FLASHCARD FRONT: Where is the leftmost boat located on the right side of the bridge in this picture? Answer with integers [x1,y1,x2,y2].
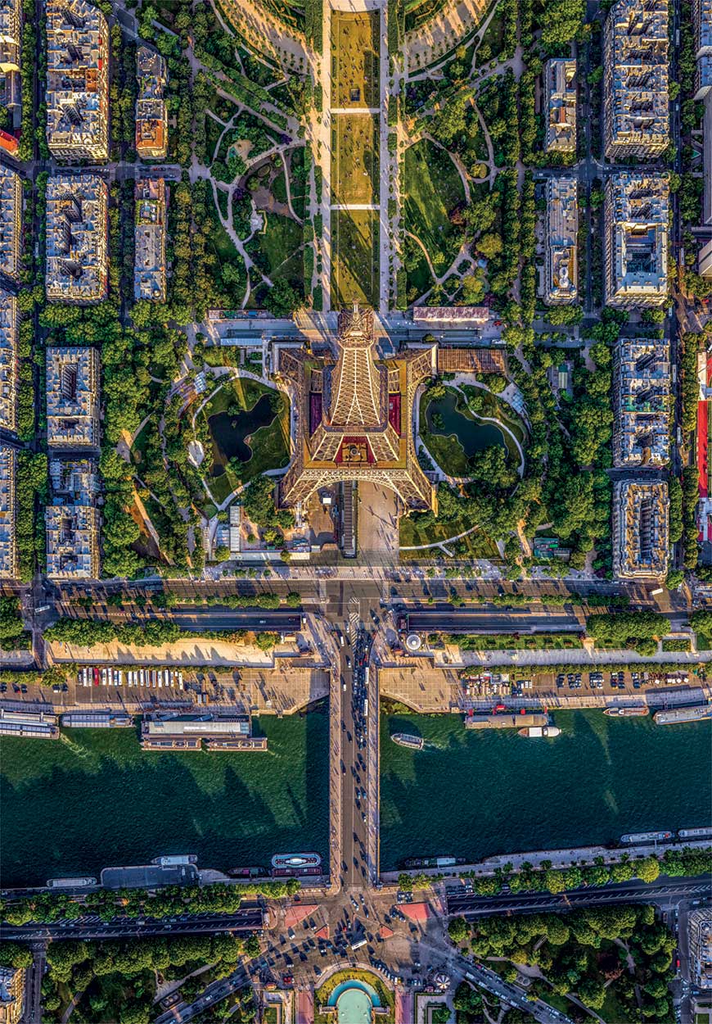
[391,733,424,751]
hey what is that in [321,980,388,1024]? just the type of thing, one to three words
fountain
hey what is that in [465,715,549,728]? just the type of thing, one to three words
ship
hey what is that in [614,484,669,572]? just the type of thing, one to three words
house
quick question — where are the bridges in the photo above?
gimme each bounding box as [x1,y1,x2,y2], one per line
[328,664,381,891]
